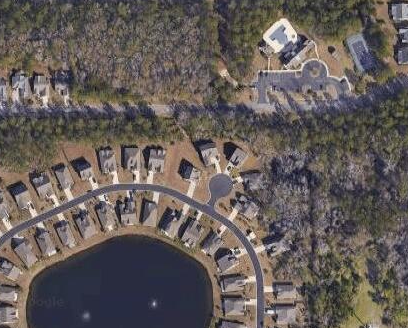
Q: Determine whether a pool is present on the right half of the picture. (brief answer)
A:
Yes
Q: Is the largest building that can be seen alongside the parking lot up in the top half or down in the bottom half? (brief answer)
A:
top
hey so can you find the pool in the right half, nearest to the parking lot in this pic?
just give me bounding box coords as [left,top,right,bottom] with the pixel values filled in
[265,20,298,53]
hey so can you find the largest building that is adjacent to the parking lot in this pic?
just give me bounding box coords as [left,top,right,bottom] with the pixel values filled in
[277,34,314,66]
